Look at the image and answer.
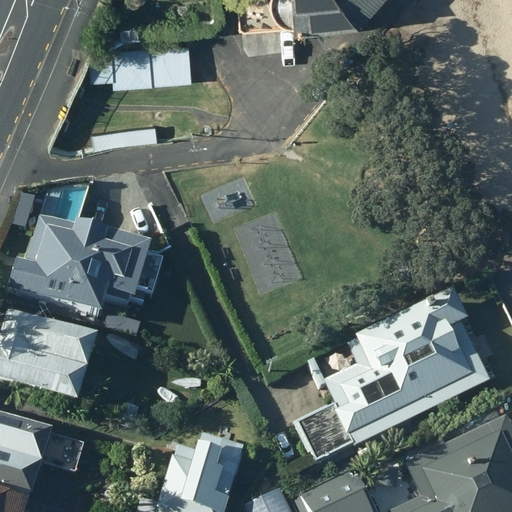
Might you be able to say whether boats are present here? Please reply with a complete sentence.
Yes, a boat is visible in the scene.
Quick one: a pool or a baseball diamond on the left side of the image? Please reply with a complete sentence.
You can see a pool on the left side of the image.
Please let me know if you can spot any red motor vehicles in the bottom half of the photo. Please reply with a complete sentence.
No, no red motor vehicle can be made out in the bottom half of the photo.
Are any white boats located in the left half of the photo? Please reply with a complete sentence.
Yes, a white boat is visible in the left half of the photo.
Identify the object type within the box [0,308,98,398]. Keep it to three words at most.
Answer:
house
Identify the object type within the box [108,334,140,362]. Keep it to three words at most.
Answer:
boat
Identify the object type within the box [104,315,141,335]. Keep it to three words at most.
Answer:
shed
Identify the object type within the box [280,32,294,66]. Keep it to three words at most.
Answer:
vehicle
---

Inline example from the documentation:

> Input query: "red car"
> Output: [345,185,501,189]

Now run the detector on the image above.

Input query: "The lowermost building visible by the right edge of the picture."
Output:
[390,414,512,512]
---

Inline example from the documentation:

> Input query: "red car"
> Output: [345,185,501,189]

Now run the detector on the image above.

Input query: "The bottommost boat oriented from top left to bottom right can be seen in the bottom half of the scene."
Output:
[158,386,178,404]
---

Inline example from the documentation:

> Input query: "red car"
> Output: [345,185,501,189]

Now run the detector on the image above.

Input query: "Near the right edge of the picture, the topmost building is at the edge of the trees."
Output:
[325,286,497,445]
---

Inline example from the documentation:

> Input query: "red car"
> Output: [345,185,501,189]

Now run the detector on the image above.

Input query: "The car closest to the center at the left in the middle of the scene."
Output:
[130,206,148,234]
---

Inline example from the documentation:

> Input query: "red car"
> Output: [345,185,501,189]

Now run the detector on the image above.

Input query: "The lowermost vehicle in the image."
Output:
[276,432,295,458]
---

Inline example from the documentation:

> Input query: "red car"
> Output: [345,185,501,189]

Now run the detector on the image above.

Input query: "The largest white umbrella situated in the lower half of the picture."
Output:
[328,352,346,371]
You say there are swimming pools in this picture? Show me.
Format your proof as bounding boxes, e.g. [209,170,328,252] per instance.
[40,183,90,221]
